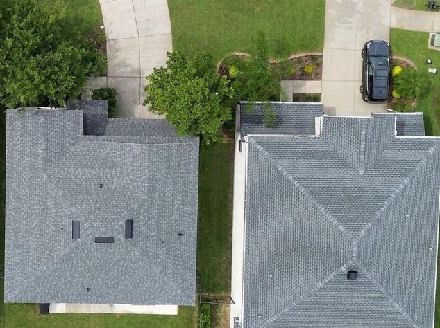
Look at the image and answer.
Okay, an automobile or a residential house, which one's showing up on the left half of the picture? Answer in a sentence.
The one visible on the left half of the picture is a residential house.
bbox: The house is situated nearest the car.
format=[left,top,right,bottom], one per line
[231,101,440,328]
